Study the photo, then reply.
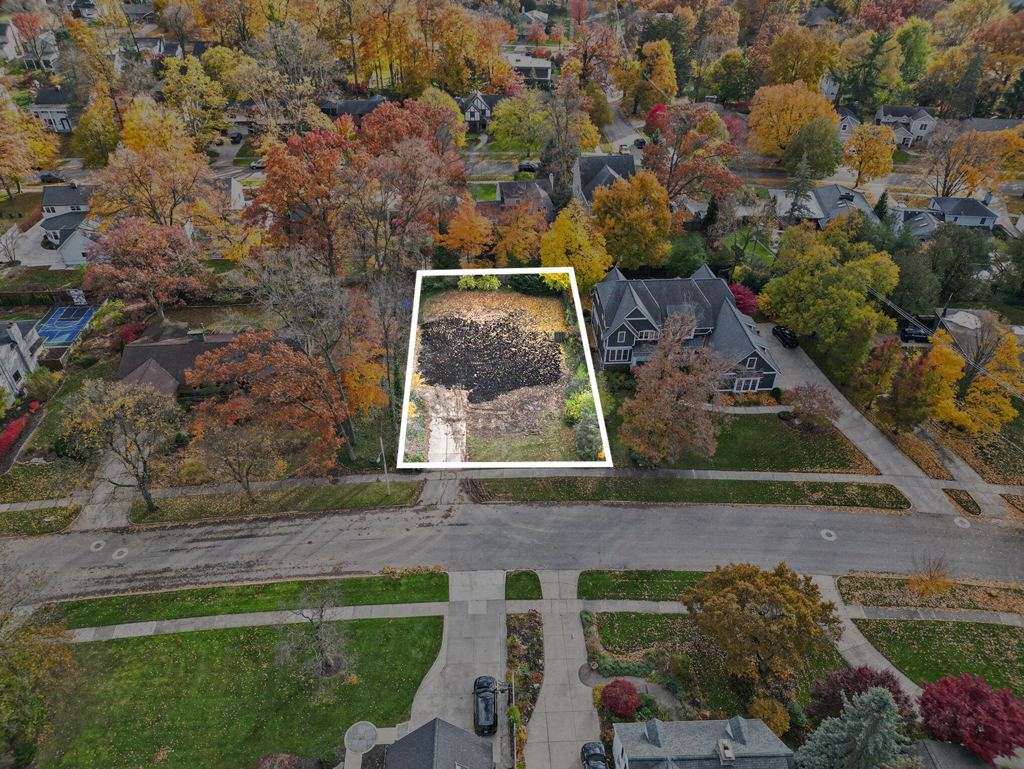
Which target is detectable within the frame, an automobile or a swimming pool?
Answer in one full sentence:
It is an automobile that can be seen here.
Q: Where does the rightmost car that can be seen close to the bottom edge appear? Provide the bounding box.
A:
[582,733,612,769]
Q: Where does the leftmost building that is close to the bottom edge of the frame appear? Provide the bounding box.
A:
[373,711,498,769]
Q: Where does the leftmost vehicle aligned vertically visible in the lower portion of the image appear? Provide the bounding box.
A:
[473,677,499,737]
